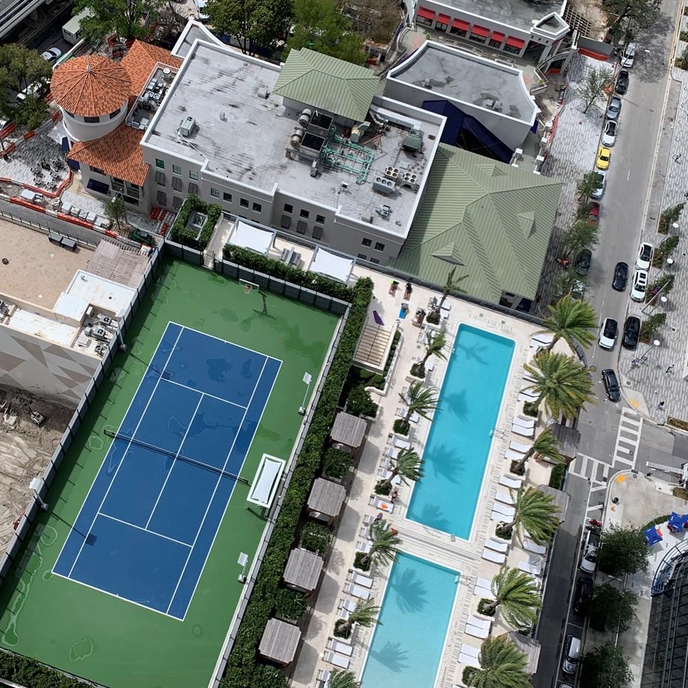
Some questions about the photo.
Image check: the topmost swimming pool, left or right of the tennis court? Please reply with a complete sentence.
You can see the topmost swimming pool positioned to the right of the tennis court.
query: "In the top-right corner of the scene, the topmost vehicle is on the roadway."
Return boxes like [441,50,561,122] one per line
[620,41,639,67]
